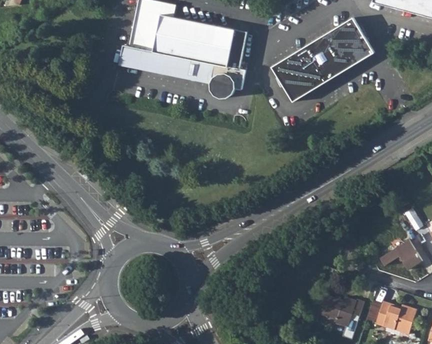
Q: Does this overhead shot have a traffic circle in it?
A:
Yes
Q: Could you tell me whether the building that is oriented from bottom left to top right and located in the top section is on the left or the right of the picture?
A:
right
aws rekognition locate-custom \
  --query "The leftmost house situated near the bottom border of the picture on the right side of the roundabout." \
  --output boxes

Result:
[322,294,365,328]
